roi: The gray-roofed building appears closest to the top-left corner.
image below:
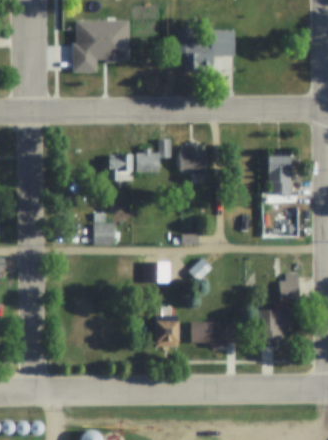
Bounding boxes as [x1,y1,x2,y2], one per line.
[72,17,130,74]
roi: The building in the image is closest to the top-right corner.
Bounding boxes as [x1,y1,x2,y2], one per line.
[182,30,236,70]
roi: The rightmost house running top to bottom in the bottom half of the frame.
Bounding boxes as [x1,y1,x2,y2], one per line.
[279,272,300,332]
